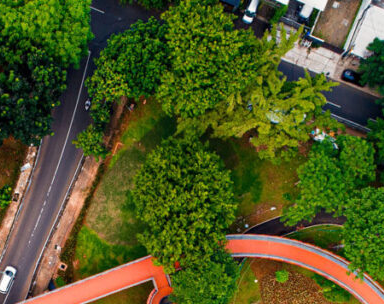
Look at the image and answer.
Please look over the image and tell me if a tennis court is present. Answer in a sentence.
No, this view has no tennis court in it.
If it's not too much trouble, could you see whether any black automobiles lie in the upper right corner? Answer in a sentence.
Yes, a black automobile is visible in the upper right corner.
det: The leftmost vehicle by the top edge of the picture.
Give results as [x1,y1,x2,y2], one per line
[241,0,262,24]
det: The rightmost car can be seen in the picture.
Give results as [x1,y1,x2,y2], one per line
[341,69,368,88]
